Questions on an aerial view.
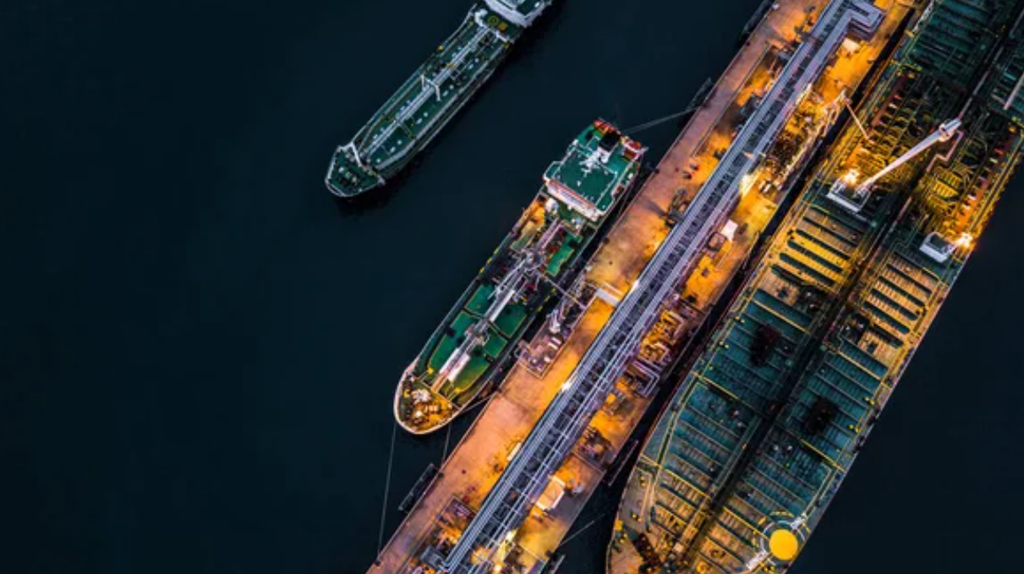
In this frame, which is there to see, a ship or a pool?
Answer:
ship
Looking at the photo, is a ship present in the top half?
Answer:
Yes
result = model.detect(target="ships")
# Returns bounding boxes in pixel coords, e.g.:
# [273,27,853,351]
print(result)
[394,114,653,438]
[325,0,560,203]
[606,0,1024,574]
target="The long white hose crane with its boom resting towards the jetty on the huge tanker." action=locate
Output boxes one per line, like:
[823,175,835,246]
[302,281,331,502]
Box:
[853,123,969,195]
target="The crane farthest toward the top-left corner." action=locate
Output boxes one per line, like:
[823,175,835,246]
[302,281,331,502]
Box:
[485,234,537,294]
